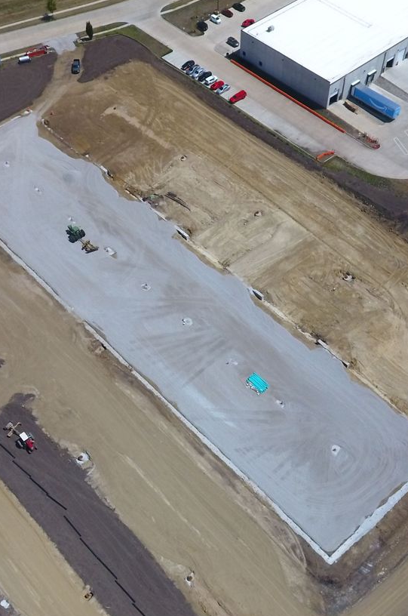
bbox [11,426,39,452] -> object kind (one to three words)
work vehicle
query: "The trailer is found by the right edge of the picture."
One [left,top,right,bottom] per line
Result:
[353,77,399,113]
